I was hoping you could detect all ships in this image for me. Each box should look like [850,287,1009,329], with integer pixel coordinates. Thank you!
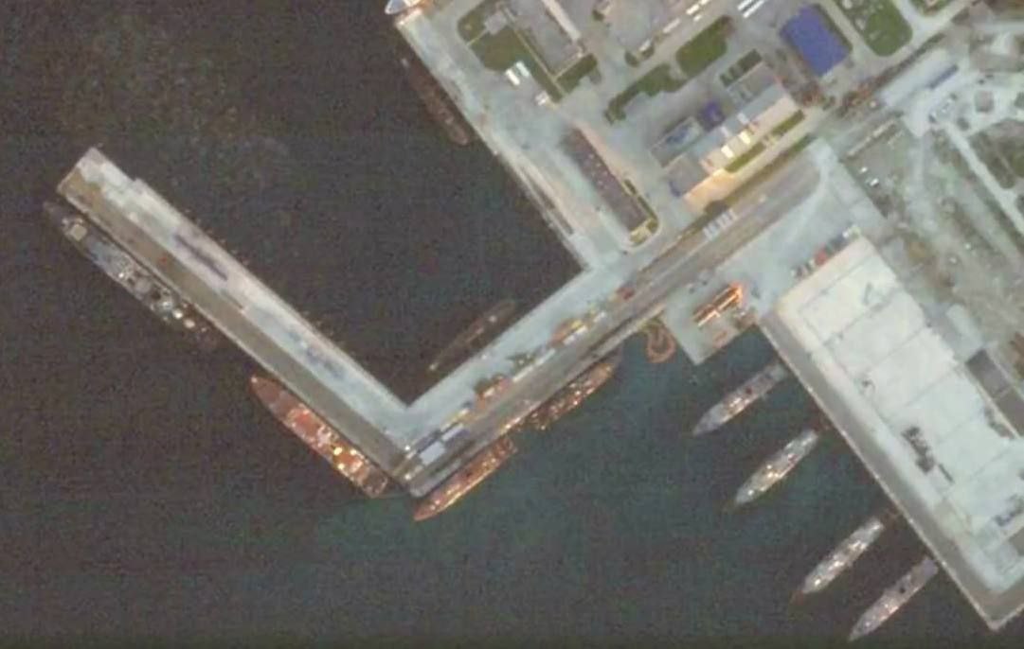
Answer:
[383,0,421,14]
[736,427,824,507]
[402,59,470,146]
[851,557,944,640]
[795,511,889,599]
[430,298,521,369]
[694,362,792,435]
[414,439,522,521]
[249,375,389,498]
[523,361,620,436]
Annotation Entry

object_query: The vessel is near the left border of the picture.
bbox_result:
[44,199,222,348]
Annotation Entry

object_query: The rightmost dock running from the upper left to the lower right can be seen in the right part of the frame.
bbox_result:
[761,235,1024,628]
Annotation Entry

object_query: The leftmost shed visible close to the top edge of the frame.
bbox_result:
[484,8,509,34]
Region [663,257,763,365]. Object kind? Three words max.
pier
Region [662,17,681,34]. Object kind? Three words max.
vehicle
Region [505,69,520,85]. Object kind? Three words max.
vehicle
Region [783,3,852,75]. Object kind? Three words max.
building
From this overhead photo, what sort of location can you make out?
port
